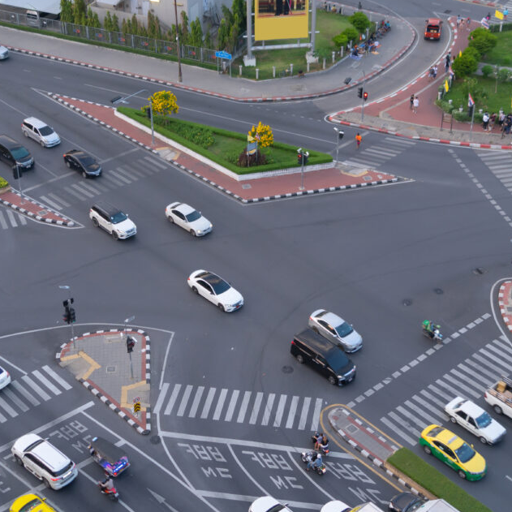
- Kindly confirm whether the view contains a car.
Yes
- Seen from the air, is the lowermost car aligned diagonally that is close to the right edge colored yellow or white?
yellow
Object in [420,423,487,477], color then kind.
yellow car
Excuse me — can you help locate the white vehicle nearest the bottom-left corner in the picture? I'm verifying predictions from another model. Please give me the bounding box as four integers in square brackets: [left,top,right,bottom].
[13,436,77,490]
